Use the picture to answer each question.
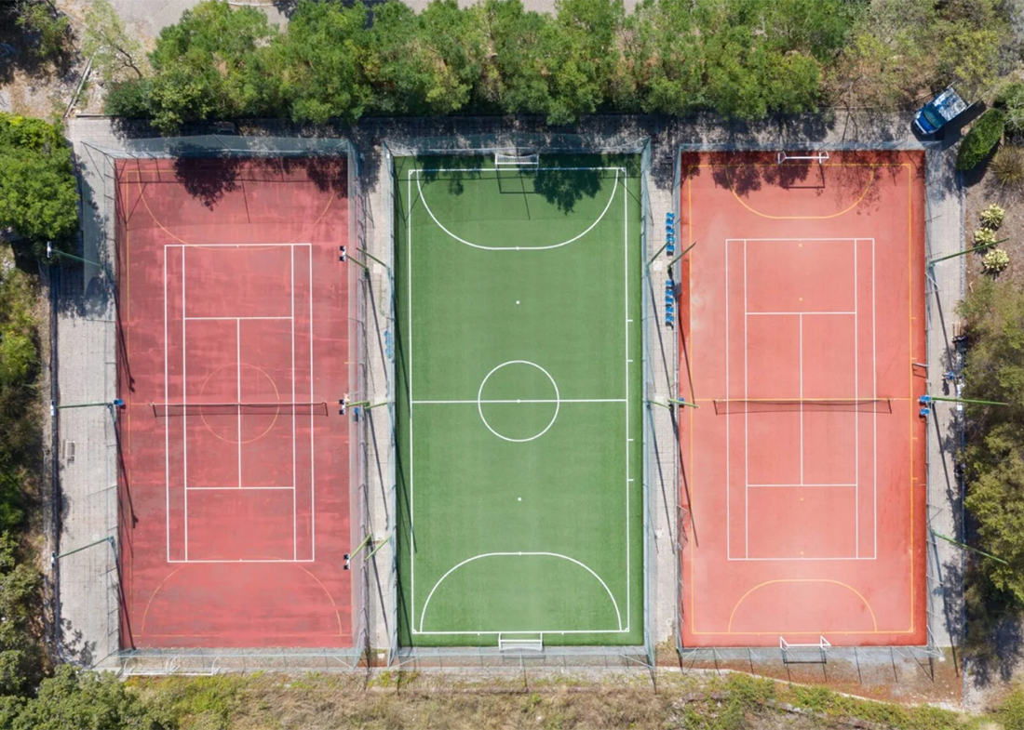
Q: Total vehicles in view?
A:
1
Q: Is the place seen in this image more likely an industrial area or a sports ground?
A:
sports ground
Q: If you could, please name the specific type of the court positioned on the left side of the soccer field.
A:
tennis court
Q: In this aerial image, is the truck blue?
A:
Yes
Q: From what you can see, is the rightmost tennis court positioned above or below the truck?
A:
below it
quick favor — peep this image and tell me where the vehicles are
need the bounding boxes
[909,100,951,136]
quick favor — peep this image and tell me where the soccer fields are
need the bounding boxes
[394,155,644,648]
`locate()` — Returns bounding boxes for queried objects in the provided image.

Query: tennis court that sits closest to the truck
[680,151,928,647]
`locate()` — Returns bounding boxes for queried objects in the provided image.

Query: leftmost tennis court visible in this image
[115,155,352,649]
